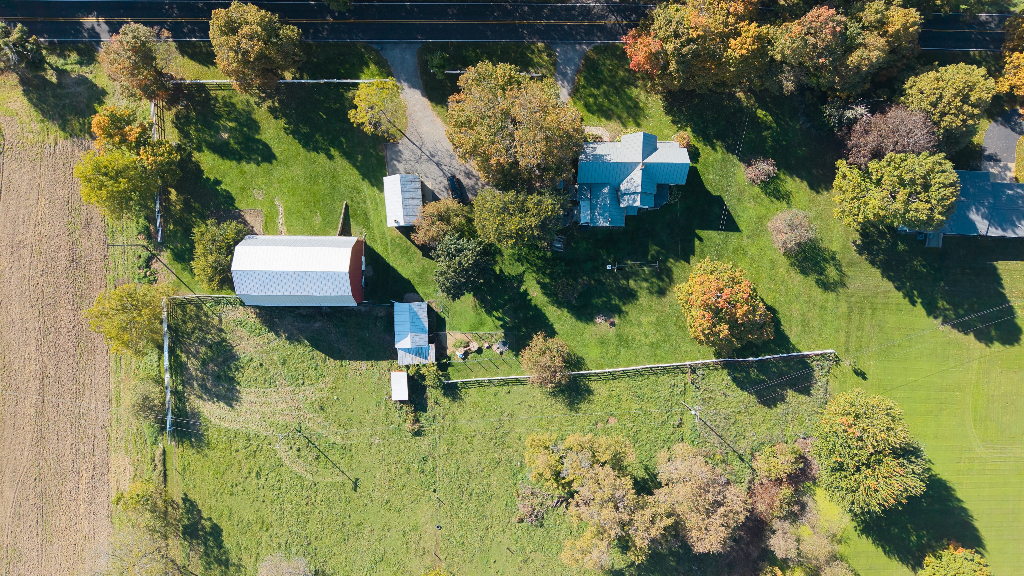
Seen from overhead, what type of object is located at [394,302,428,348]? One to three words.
shed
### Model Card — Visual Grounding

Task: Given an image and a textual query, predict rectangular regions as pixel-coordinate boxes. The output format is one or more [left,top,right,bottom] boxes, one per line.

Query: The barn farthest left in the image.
[230,236,366,308]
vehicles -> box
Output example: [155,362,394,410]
[447,174,462,201]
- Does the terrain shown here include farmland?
Yes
